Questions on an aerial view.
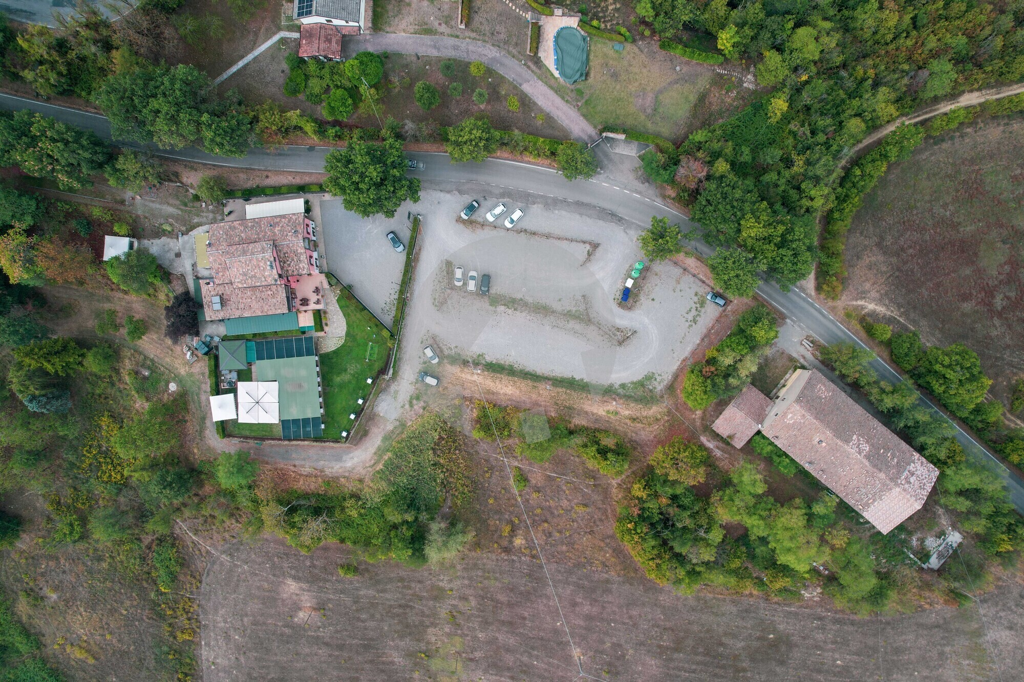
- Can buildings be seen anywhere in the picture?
Yes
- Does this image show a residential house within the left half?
Yes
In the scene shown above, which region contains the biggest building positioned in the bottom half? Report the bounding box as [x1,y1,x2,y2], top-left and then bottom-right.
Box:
[756,368,940,535]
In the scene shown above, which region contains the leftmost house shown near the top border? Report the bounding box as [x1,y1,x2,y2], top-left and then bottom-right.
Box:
[292,0,364,60]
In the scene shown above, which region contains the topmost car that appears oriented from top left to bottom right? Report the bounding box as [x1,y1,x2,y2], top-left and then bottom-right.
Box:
[386,230,405,253]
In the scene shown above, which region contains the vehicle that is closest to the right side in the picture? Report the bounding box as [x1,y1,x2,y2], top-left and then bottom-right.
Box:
[706,292,727,308]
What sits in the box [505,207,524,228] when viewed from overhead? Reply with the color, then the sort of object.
white car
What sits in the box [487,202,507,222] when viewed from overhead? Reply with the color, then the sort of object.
white car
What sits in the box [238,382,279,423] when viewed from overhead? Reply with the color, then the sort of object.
white umbrella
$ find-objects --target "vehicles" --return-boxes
[505,207,524,228]
[453,266,464,286]
[706,292,727,308]
[423,344,440,364]
[418,373,441,387]
[487,202,507,222]
[480,273,491,295]
[386,230,405,253]
[467,270,478,292]
[461,199,480,220]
